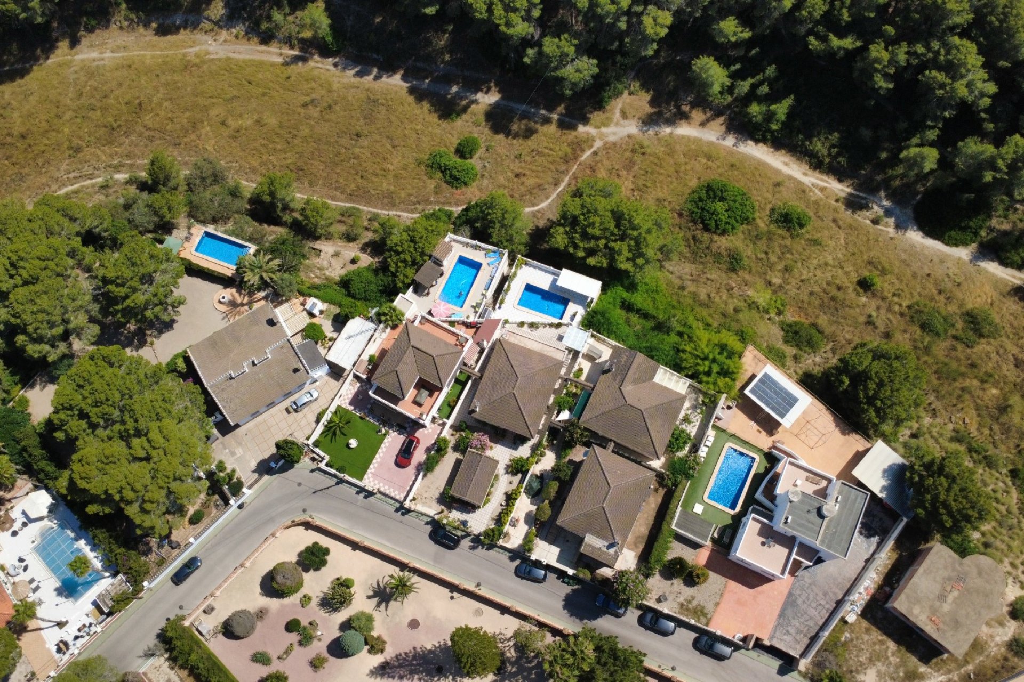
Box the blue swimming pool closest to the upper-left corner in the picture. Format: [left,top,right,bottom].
[191,227,257,273]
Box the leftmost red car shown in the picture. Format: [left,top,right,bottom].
[395,432,422,470]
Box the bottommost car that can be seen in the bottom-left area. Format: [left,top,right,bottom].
[166,553,207,590]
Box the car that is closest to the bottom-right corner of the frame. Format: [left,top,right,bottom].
[692,632,737,664]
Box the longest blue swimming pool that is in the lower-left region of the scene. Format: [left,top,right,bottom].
[31,523,106,603]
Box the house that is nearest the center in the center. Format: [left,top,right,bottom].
[470,329,567,441]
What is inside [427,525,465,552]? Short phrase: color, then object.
black car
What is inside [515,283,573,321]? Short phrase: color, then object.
blue swimming pool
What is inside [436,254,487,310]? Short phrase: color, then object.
blue swimming pool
